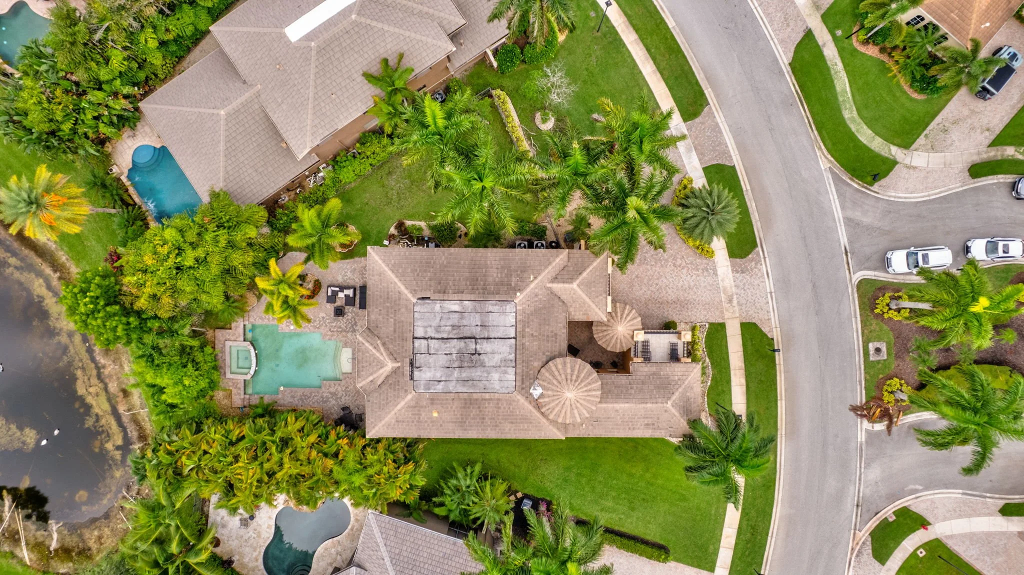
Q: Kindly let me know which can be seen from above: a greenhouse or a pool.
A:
pool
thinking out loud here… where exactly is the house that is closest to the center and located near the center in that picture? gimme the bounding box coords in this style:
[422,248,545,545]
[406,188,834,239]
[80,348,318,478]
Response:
[355,245,703,441]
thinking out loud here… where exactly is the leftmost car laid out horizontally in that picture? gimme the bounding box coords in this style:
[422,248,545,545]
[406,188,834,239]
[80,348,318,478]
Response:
[882,246,951,275]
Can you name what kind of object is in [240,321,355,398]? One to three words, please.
swimming pool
